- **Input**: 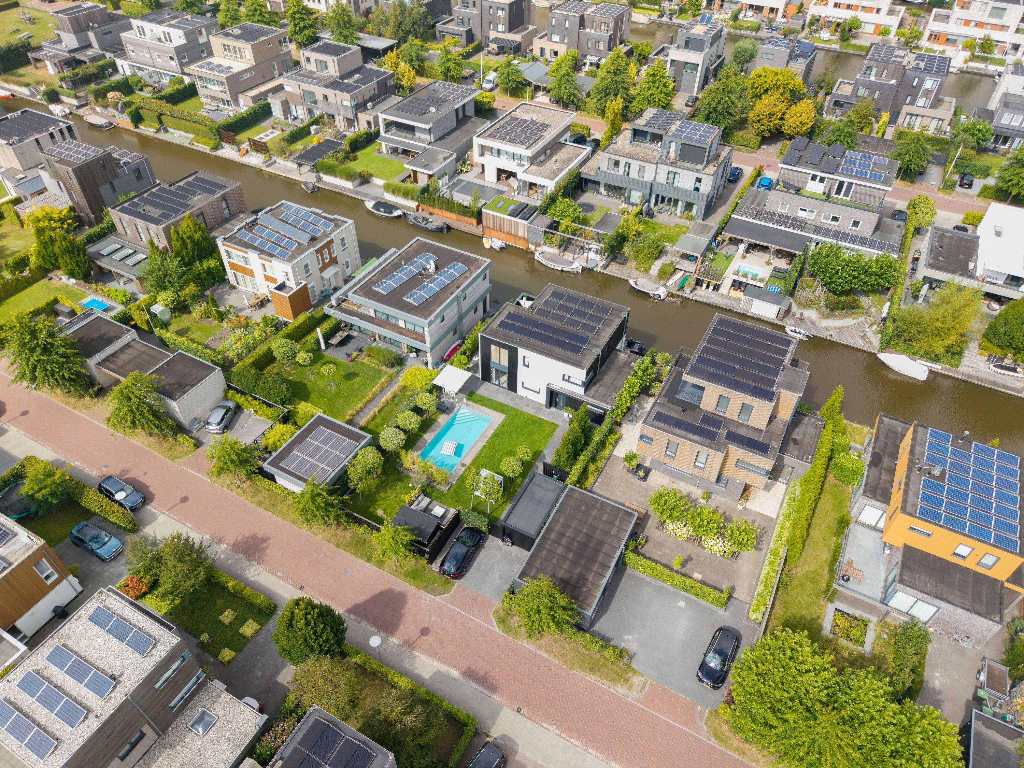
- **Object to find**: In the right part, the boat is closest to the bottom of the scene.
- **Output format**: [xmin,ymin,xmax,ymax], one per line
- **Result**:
[877,351,931,382]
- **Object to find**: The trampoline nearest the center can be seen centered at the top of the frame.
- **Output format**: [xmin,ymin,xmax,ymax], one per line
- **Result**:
[574,201,598,214]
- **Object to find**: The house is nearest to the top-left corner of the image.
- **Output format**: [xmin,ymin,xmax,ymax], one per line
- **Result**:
[28,2,131,75]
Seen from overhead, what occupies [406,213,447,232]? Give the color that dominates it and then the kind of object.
gray boat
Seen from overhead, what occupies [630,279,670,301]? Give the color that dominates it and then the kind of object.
white boat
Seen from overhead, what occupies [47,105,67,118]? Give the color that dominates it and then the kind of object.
white boat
